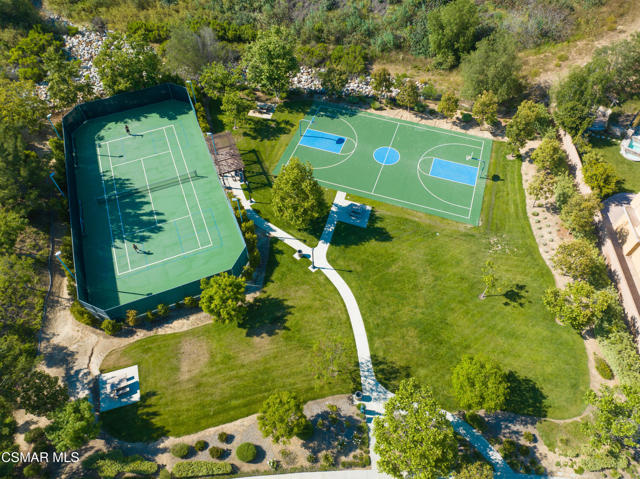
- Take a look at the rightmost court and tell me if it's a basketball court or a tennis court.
basketball court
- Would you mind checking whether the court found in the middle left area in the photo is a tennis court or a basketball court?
tennis court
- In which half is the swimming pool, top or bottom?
top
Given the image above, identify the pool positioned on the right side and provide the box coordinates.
[617,129,640,164]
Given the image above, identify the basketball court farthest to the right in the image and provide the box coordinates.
[271,100,493,224]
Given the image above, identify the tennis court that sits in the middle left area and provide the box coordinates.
[72,100,246,325]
